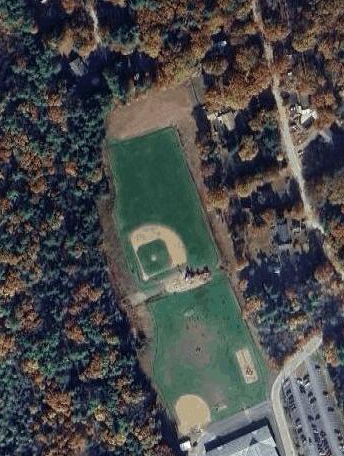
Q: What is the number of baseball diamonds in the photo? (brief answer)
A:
two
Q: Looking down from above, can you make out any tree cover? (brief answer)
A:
Yes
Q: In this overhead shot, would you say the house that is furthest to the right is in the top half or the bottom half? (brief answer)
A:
top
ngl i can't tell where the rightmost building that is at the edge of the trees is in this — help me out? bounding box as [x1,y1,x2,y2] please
[290,105,316,128]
